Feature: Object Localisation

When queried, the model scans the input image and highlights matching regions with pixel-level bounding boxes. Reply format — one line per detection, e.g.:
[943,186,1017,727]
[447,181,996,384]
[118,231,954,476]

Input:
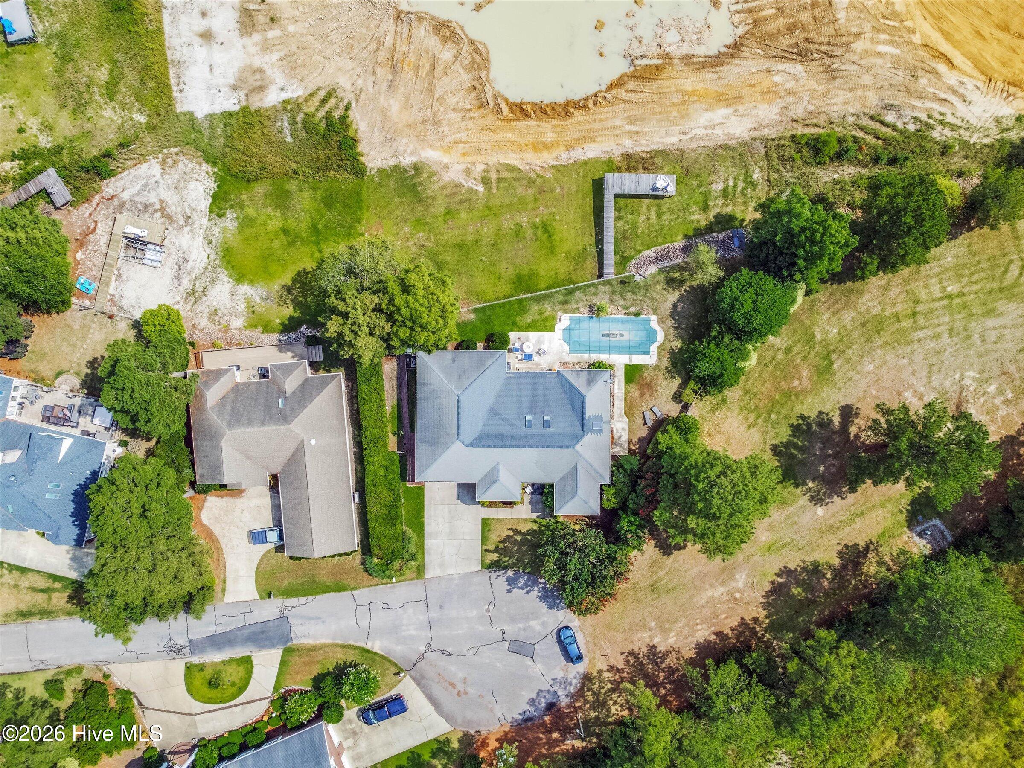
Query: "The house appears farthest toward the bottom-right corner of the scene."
[415,350,611,516]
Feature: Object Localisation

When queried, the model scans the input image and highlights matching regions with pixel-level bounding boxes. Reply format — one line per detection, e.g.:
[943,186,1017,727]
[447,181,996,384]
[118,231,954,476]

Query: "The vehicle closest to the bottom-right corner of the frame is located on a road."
[559,627,587,672]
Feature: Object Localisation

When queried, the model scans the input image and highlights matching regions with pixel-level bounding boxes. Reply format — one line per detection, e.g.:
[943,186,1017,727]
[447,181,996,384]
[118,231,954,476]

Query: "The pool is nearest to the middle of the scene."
[561,315,659,356]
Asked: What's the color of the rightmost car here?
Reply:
blue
